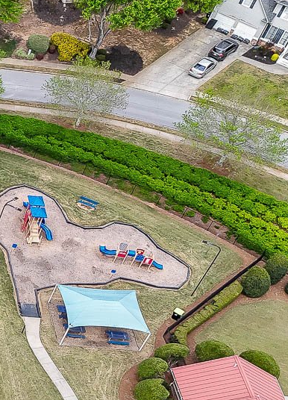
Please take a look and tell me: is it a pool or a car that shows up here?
car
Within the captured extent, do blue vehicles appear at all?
No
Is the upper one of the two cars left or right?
right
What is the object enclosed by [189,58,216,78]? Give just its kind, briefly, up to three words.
car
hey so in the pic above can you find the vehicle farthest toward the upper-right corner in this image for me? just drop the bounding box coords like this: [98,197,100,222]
[209,41,238,62]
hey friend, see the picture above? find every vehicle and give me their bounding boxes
[209,41,238,62]
[189,58,216,78]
